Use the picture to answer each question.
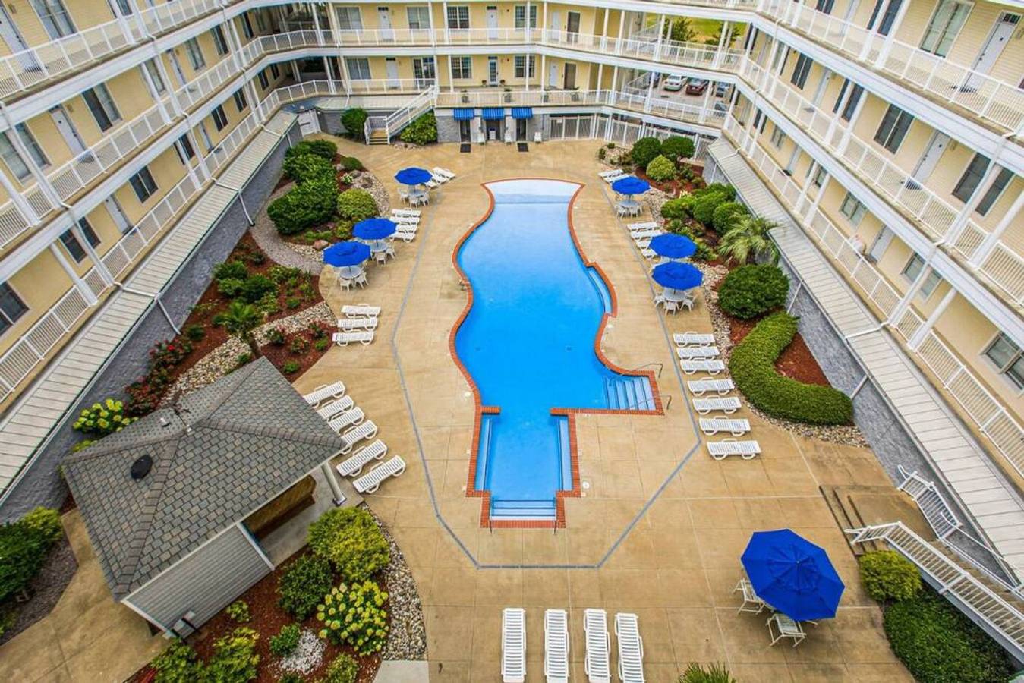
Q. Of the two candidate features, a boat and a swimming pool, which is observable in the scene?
swimming pool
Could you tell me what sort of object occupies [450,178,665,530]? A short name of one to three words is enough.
swimming pool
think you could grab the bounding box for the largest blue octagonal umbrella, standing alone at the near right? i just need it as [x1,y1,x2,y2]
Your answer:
[739,529,847,625]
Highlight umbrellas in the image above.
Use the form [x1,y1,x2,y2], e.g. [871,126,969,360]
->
[650,235,695,261]
[739,529,847,625]
[612,177,651,205]
[653,262,704,295]
[321,242,370,274]
[353,218,398,247]
[394,167,432,195]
